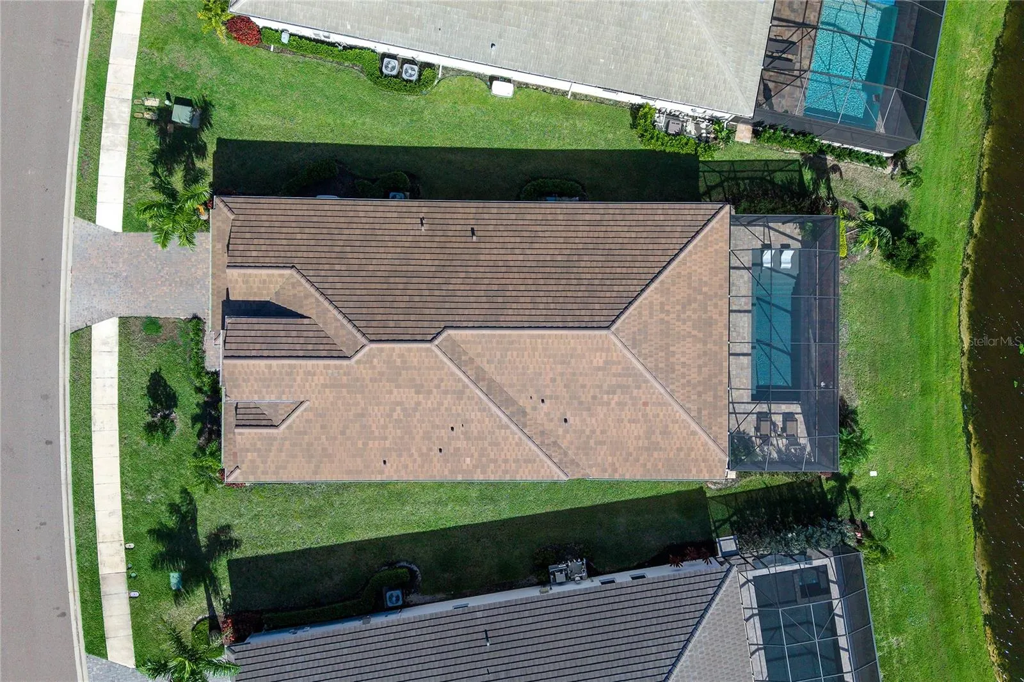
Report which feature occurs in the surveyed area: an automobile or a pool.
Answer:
pool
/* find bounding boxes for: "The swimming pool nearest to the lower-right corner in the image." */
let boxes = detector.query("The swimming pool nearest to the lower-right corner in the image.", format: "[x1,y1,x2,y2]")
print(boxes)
[750,560,848,682]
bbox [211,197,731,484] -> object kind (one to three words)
house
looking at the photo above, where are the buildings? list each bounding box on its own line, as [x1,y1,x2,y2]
[211,197,731,484]
[228,0,774,120]
[224,557,753,682]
